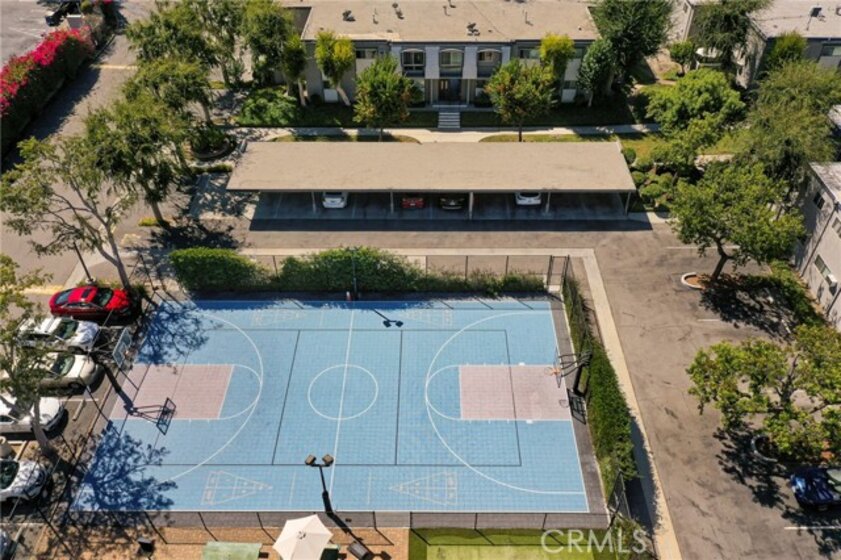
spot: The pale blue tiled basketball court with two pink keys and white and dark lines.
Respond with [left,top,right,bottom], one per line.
[70,301,590,512]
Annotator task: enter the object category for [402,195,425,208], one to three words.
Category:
vehicle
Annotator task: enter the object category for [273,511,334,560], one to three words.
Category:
umbrella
